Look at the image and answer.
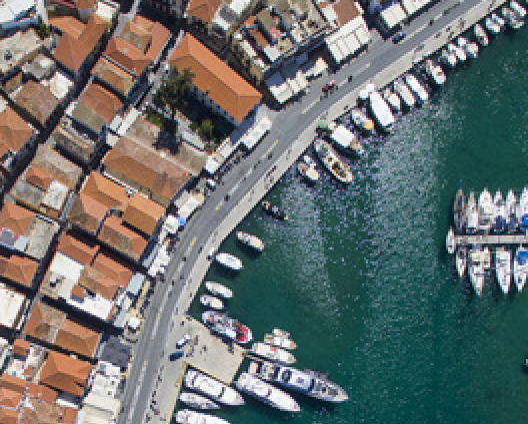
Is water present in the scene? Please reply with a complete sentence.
Yes, water can be seen from above here.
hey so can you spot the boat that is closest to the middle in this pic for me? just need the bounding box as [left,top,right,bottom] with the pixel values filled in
[263,201,288,219]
